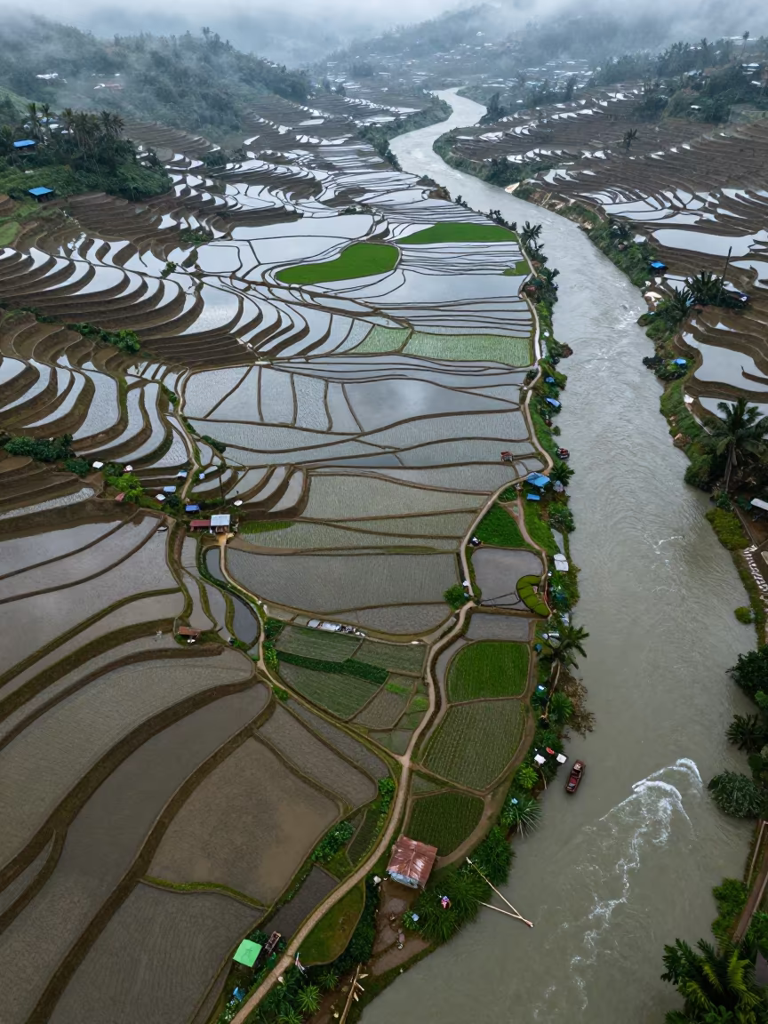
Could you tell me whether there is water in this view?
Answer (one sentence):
Yes, there's water in this view.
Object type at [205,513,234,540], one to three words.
house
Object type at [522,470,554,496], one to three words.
shed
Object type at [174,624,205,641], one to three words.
shed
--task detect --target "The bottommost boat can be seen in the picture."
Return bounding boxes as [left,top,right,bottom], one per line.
[565,759,584,794]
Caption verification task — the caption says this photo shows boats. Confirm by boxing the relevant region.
[555,449,570,458]
[565,759,584,794]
